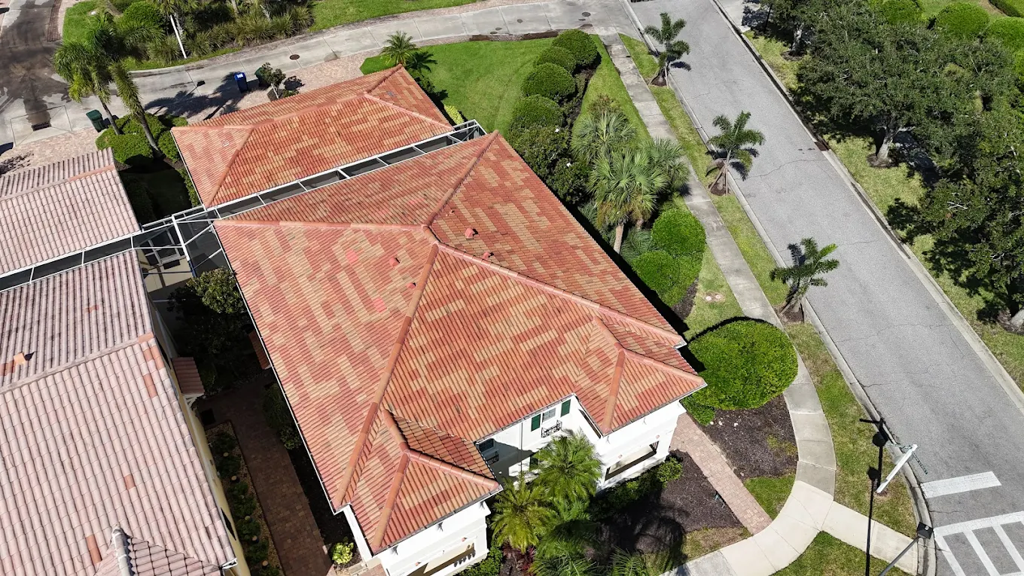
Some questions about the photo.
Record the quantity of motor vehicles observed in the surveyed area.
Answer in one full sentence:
The picture shows no motor vehicles.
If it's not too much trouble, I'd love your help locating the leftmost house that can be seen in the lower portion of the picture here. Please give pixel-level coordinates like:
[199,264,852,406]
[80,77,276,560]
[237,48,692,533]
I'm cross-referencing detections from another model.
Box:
[0,247,251,576]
